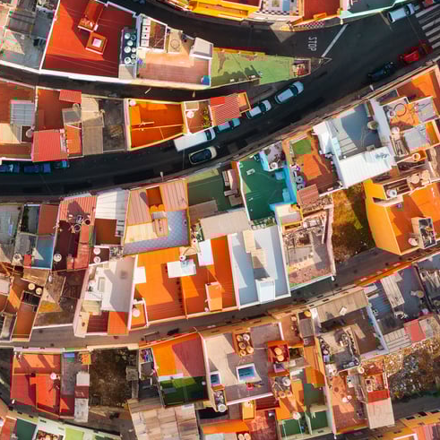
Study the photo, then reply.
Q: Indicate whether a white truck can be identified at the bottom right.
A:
No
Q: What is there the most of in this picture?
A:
buildings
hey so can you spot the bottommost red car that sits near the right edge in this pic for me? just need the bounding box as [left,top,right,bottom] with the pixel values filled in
[401,45,428,64]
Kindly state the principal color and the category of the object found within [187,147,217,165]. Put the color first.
black car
